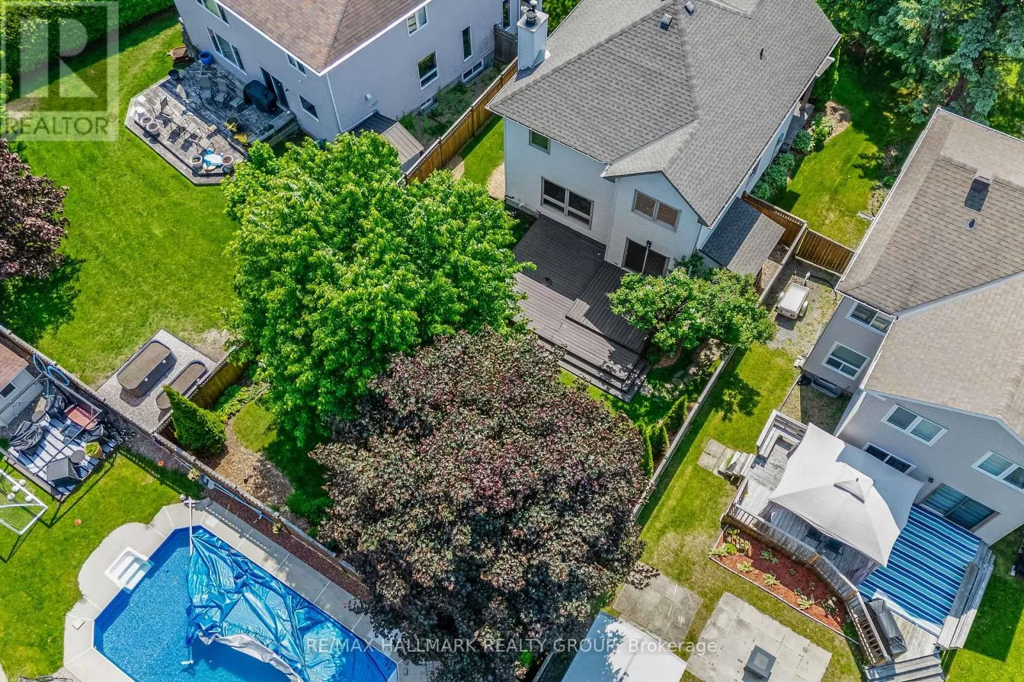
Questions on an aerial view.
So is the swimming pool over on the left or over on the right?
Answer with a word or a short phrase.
left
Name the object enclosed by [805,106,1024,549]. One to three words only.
house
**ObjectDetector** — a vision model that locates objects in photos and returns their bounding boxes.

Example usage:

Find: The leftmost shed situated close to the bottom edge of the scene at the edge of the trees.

[561,615,686,682]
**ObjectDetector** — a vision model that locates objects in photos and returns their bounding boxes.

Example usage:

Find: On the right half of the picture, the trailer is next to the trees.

[768,273,812,324]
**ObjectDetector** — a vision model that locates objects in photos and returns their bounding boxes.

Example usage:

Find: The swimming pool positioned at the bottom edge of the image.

[94,526,399,682]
